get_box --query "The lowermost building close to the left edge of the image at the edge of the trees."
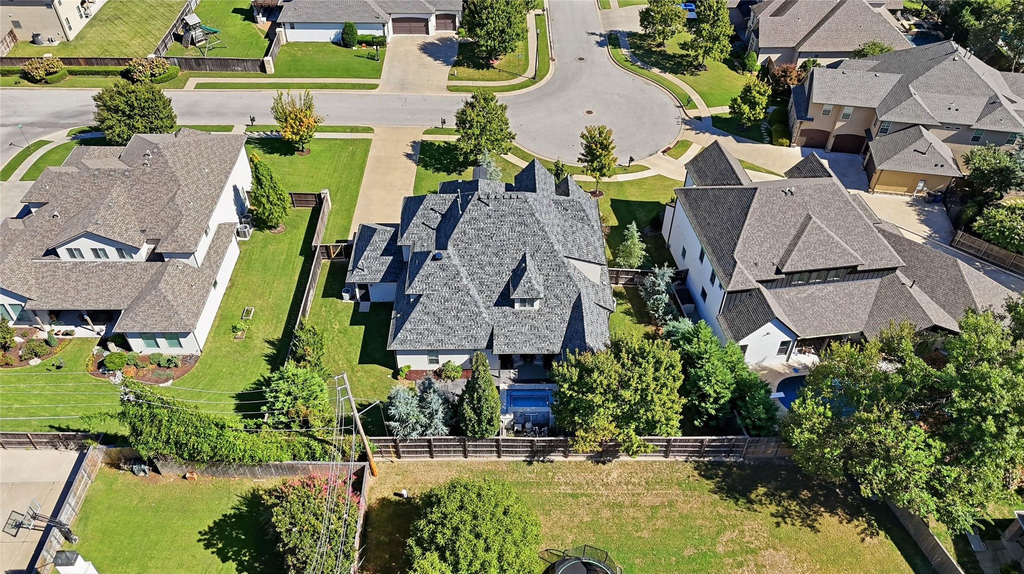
[0,116,254,354]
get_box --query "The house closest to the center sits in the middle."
[345,158,614,406]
